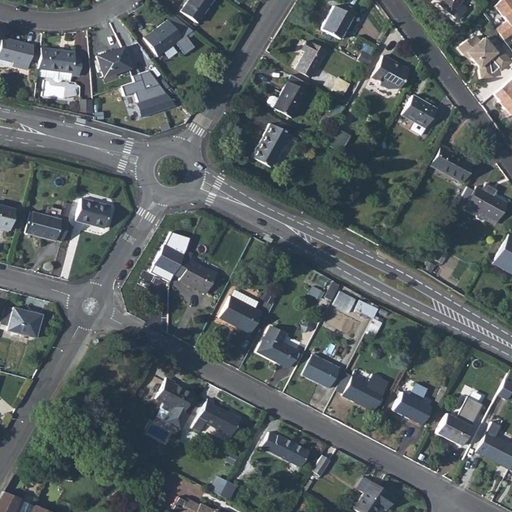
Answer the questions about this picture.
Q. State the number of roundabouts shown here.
2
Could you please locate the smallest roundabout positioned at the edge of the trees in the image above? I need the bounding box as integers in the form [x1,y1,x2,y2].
[68,281,116,329]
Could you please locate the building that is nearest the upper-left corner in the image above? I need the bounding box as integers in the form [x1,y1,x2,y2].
[0,38,36,70]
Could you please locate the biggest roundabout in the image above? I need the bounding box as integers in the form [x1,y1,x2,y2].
[131,128,218,214]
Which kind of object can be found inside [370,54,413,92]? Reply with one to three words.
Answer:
house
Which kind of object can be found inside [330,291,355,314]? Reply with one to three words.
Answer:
building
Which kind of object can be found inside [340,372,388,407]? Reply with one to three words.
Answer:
house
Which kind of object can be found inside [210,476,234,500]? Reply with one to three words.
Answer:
building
